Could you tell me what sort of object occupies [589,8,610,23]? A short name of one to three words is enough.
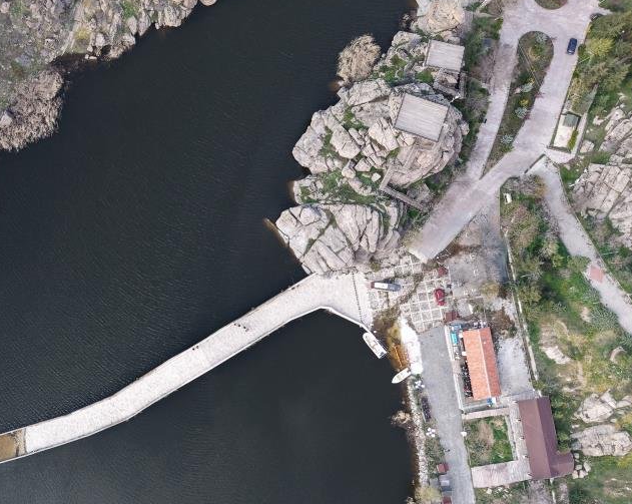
car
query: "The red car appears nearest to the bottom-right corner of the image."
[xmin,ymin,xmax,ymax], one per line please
[435,287,448,306]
